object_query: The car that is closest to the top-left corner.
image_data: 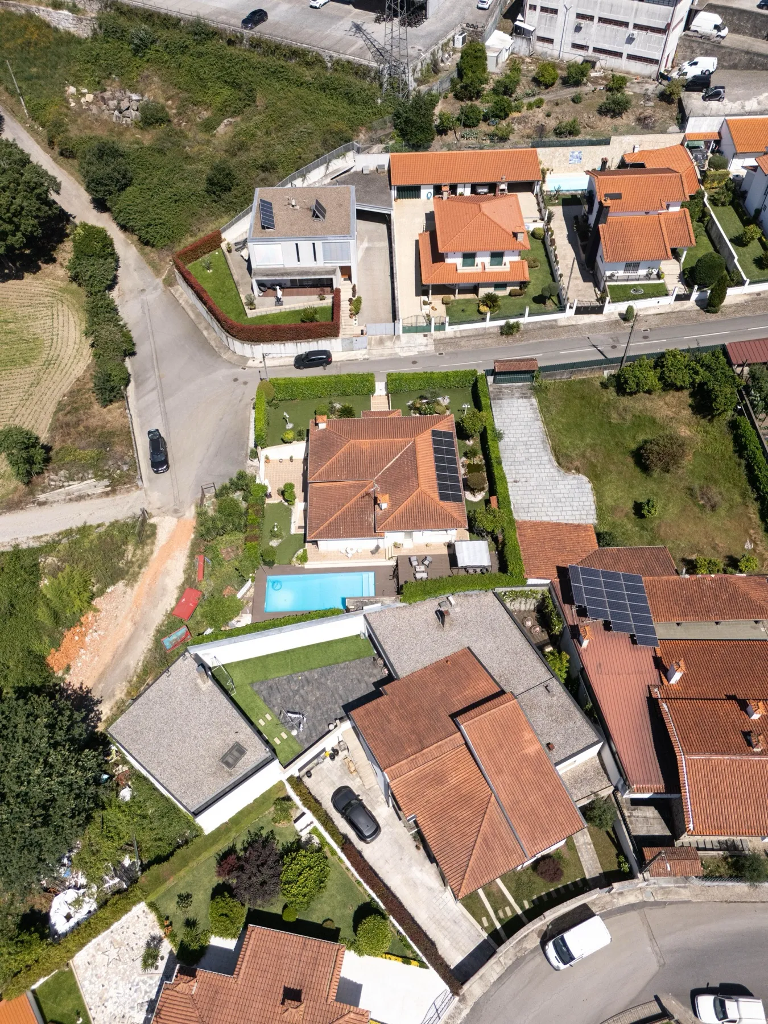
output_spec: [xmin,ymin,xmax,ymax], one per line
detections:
[241,8,268,26]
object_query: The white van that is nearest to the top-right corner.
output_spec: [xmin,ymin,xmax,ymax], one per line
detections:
[698,11,732,41]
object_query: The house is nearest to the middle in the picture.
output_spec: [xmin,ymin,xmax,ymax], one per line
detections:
[306,409,469,551]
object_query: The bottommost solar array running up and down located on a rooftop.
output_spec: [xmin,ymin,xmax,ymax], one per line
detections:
[432,430,463,502]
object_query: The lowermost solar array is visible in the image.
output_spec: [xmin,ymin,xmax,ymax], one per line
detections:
[569,565,657,650]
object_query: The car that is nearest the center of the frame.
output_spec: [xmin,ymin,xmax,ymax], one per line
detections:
[292,346,335,368]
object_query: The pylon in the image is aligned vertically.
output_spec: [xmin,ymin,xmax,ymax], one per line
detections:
[383,0,414,105]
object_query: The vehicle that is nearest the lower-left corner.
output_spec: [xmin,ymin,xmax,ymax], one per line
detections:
[330,781,383,846]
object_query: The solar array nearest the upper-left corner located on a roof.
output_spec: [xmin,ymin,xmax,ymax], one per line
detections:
[260,199,275,235]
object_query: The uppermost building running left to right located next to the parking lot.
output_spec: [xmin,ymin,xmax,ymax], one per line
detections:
[518,0,698,81]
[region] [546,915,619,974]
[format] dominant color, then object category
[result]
white van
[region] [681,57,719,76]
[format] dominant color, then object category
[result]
white vehicle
